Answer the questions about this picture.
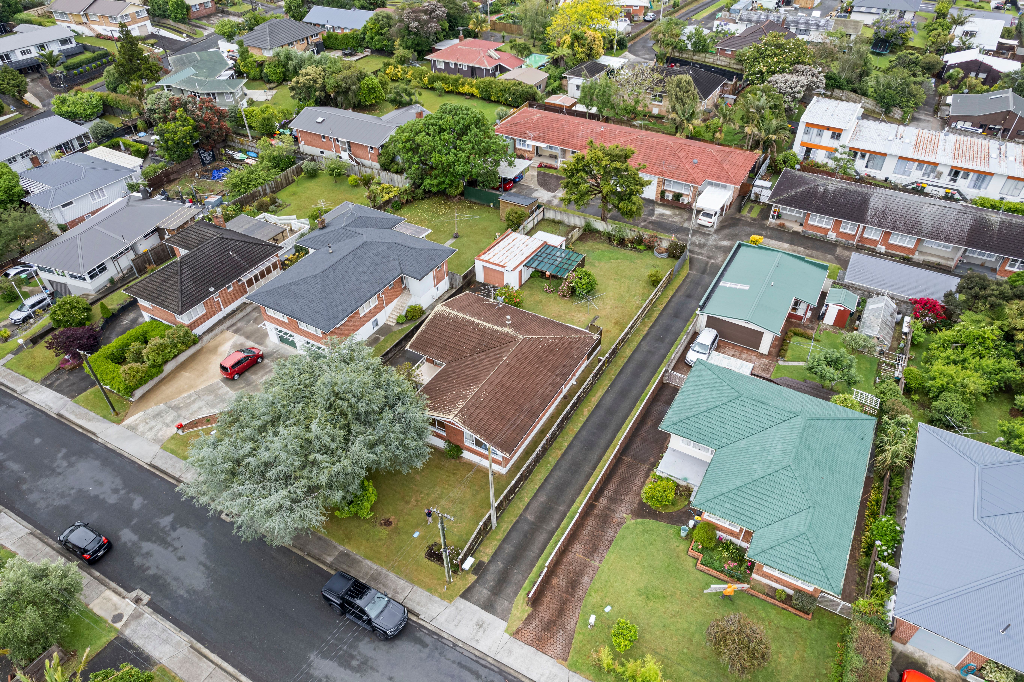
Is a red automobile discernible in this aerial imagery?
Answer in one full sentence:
Yes, you can see a red automobile in this photo.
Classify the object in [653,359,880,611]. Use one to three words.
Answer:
house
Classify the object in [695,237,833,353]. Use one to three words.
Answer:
house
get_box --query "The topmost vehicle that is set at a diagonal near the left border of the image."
[3,289,53,323]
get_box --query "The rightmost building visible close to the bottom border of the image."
[890,422,1024,682]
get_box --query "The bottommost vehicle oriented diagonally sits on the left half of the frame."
[319,571,409,641]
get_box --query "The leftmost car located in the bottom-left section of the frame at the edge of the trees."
[52,517,110,561]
